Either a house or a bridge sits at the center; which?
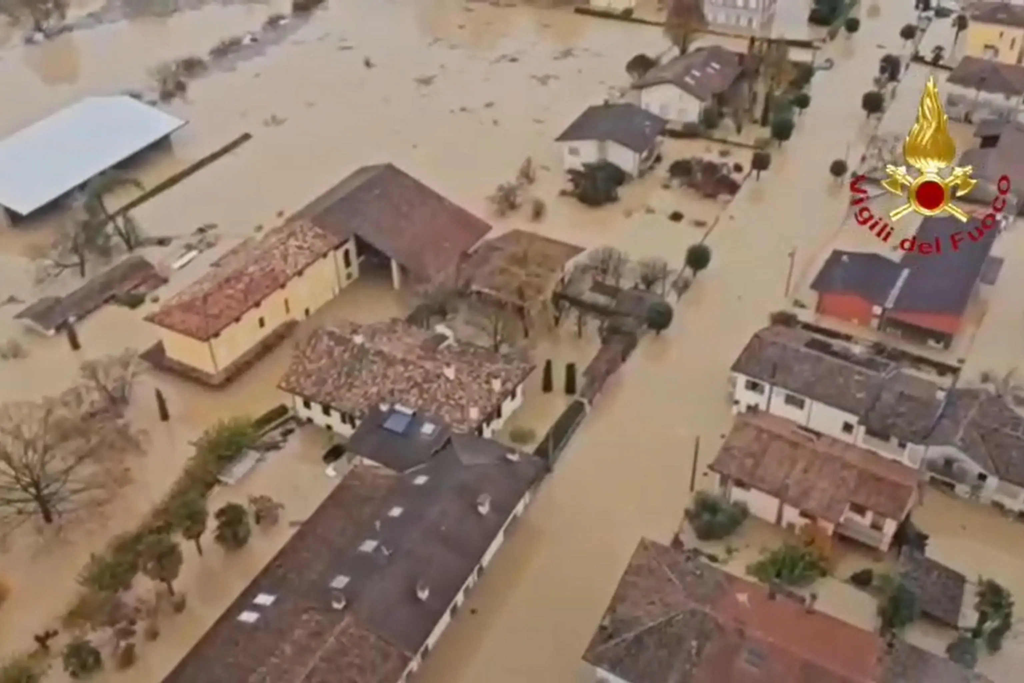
house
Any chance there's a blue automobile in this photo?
No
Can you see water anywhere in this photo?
Yes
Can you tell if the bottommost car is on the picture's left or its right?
left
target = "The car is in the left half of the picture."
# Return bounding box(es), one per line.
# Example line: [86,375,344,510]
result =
[314,445,349,471]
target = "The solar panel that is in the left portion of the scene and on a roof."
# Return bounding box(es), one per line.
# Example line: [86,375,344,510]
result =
[379,396,420,437]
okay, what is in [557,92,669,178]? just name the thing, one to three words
house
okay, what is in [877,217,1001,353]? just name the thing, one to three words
building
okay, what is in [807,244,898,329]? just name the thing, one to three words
house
